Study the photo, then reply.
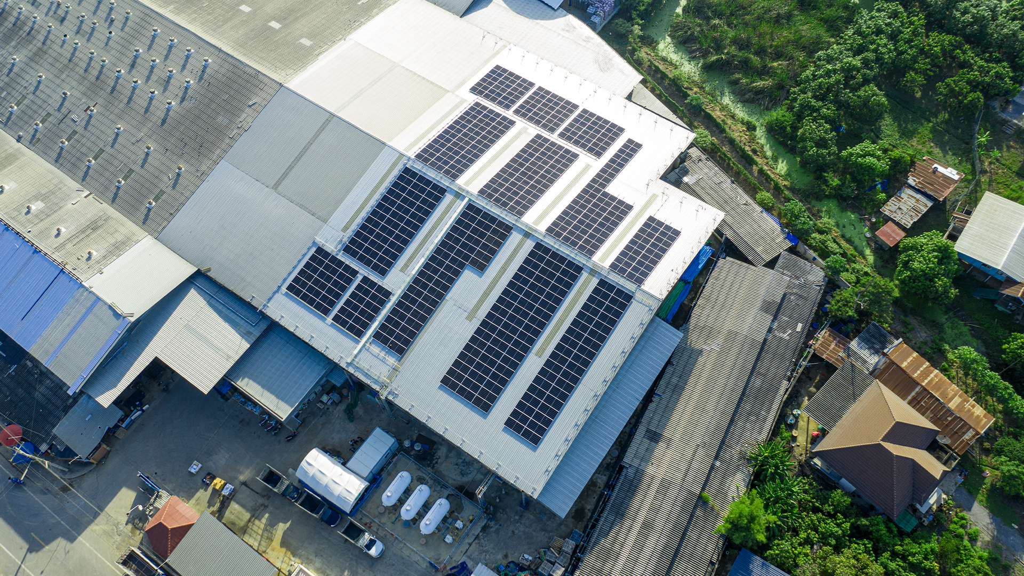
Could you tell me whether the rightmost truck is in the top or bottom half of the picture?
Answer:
bottom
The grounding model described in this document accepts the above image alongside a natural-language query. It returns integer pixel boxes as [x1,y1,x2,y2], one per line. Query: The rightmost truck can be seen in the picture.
[336,519,387,562]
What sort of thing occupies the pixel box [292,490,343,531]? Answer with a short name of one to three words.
truck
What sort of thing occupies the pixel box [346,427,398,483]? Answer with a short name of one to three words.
building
